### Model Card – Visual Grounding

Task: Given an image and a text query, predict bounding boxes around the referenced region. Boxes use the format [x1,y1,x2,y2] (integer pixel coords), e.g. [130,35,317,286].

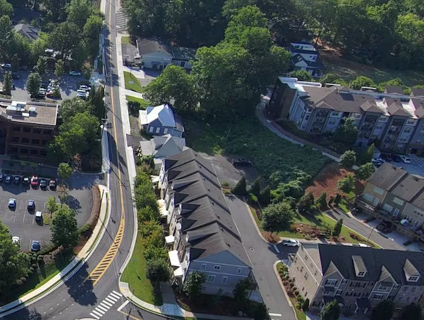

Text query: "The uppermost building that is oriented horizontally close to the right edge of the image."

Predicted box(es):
[269,77,424,162]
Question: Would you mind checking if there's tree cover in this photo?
Yes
